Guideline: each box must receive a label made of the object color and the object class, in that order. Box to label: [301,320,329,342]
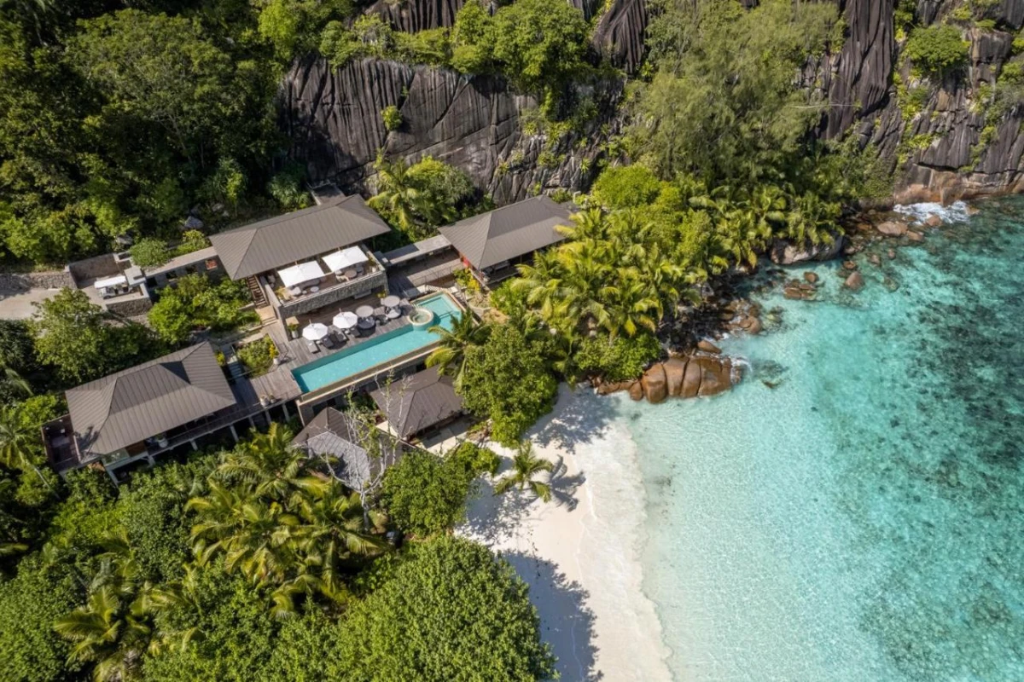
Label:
white umbrella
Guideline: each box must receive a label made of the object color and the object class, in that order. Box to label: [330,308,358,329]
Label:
white umbrella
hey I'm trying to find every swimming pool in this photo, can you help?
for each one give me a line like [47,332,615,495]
[288,292,480,424]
